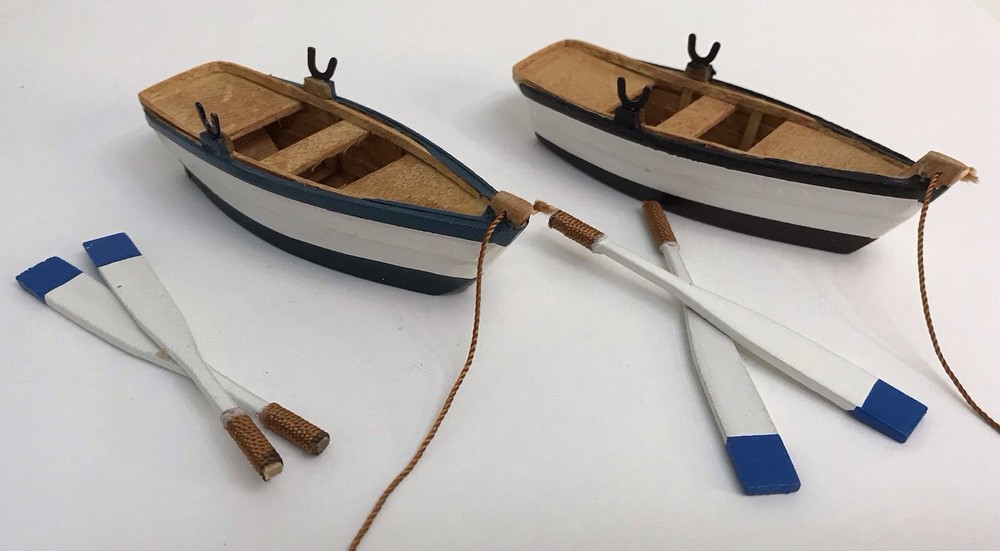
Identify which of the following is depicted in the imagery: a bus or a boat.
boat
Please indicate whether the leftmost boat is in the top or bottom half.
top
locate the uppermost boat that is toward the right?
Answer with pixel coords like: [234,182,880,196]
[512,34,979,250]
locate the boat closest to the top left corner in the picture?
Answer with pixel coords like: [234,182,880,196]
[140,47,564,290]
